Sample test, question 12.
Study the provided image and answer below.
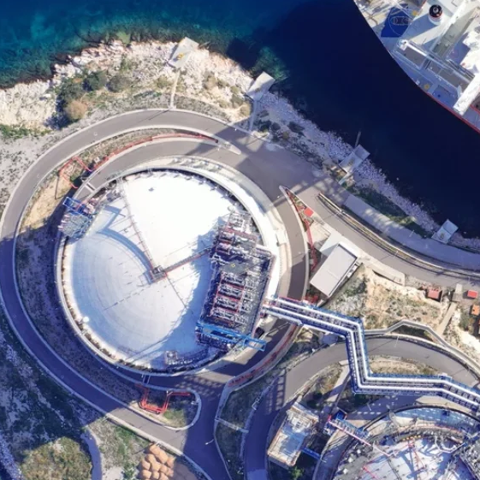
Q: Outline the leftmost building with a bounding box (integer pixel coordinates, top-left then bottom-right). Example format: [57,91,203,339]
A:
[268,401,321,468]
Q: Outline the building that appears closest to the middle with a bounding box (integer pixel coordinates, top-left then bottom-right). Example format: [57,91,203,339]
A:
[310,231,363,297]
